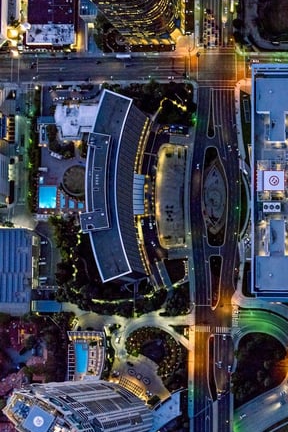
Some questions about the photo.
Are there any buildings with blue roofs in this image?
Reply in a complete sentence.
Yes, a building with a blue roof can be made out from above.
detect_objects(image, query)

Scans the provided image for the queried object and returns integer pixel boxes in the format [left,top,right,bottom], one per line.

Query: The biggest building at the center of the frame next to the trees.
[80,89,153,287]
